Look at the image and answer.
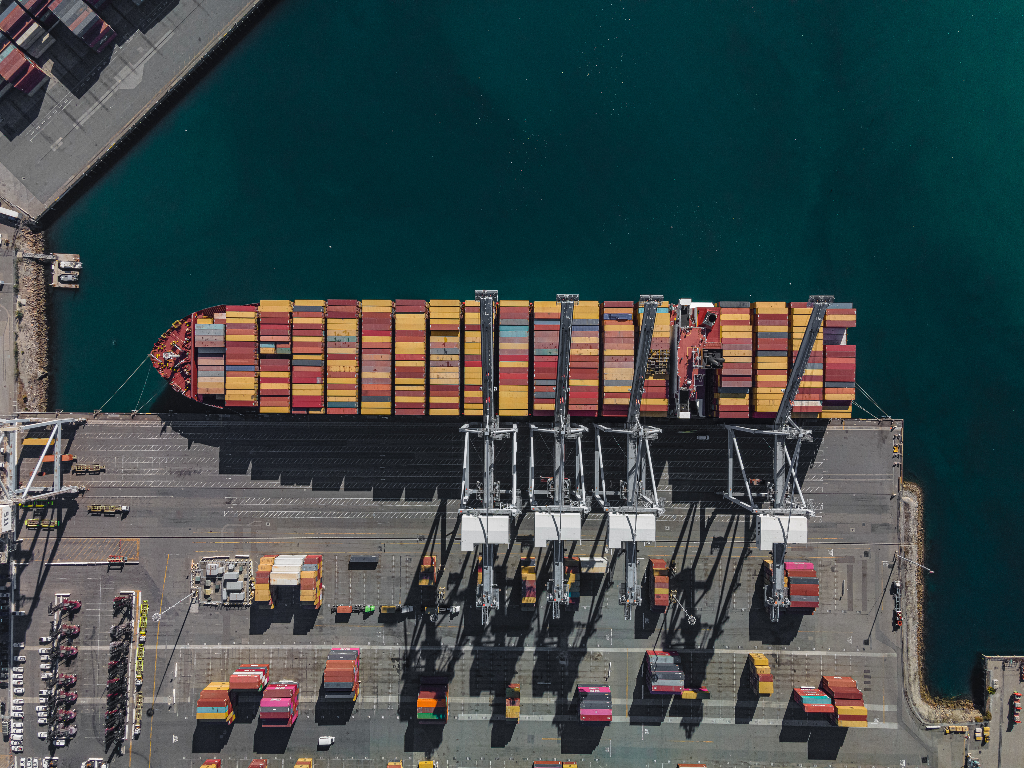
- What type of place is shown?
port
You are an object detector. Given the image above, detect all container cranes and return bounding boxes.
[452,288,526,622]
[0,418,91,540]
[710,295,833,624]
[587,294,671,623]
[520,292,597,622]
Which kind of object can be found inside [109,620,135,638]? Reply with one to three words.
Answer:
work vehicle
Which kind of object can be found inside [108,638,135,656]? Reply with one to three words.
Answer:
work vehicle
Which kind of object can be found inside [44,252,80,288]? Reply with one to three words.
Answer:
pier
